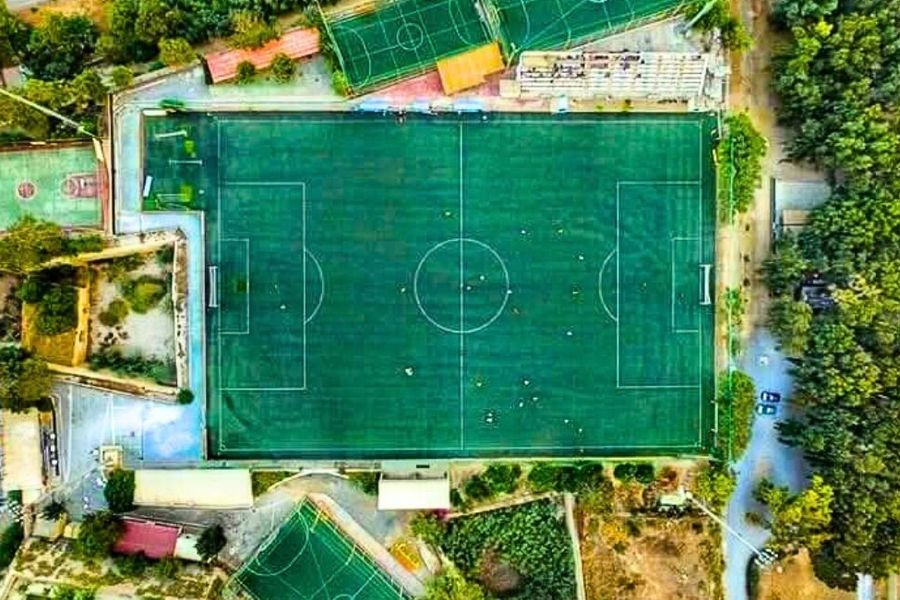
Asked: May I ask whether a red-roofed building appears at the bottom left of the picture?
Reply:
Yes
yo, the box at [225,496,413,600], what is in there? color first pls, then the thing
green sports court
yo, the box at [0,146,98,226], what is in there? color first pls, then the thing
green basketball court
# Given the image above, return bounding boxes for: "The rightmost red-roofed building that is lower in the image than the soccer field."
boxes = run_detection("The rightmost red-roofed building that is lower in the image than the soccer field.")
[114,512,185,560]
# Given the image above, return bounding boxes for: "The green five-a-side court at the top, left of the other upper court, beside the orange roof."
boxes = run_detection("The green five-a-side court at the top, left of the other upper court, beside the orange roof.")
[327,0,500,95]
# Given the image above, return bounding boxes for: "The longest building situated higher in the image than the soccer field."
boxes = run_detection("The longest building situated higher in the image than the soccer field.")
[205,28,323,88]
